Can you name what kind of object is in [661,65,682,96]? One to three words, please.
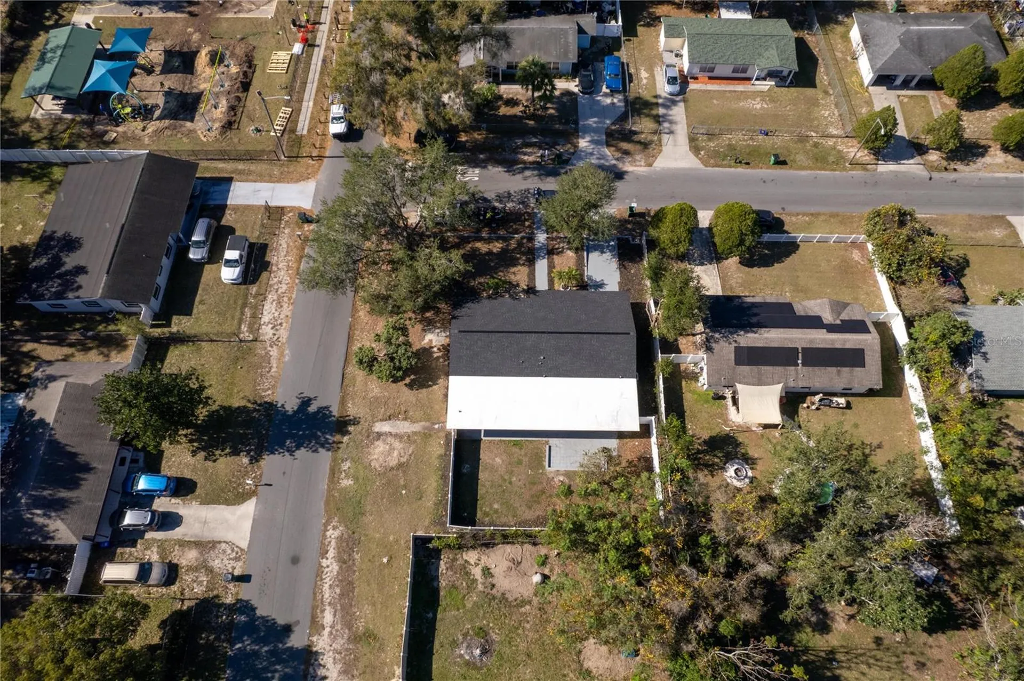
car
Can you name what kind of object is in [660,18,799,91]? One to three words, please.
house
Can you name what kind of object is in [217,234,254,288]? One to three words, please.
truck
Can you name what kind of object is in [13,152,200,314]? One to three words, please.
house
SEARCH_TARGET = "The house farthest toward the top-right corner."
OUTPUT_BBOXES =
[848,11,1007,90]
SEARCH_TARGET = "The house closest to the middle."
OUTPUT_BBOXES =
[446,291,642,440]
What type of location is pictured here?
residential area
